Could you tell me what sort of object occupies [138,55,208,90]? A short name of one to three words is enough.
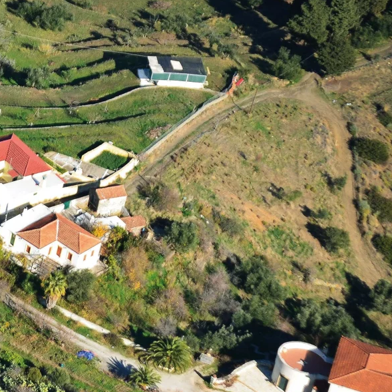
building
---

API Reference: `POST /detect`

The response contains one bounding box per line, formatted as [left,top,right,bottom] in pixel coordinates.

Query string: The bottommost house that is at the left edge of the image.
[0,195,102,268]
